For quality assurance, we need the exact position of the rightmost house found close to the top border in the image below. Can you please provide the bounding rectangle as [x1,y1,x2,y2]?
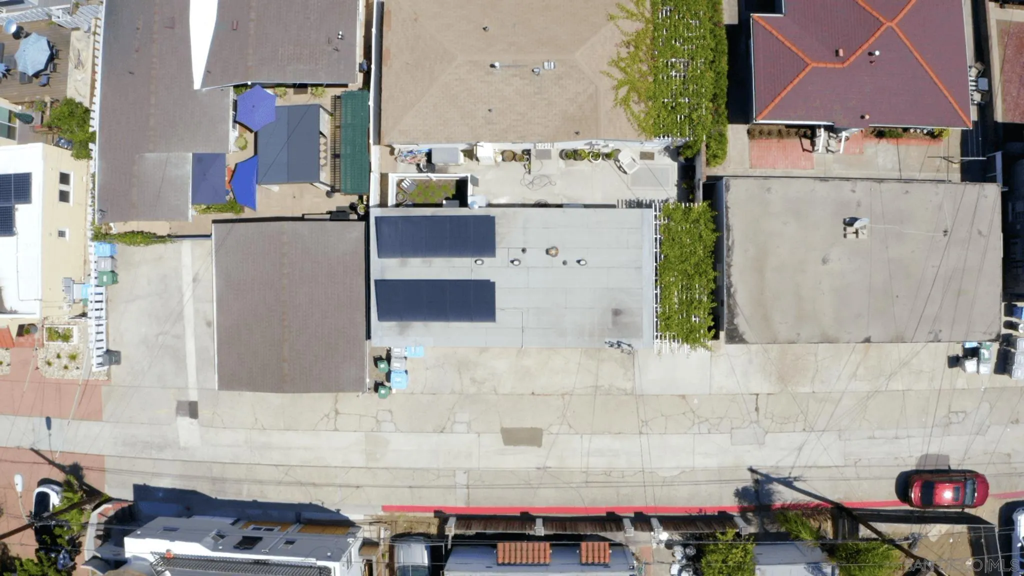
[743,0,974,130]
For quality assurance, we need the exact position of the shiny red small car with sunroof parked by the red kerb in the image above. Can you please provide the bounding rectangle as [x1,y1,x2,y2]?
[903,470,989,514]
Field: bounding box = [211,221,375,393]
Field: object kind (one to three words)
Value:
building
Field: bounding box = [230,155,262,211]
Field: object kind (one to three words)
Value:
umbrella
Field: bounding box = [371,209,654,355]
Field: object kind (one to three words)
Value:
building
